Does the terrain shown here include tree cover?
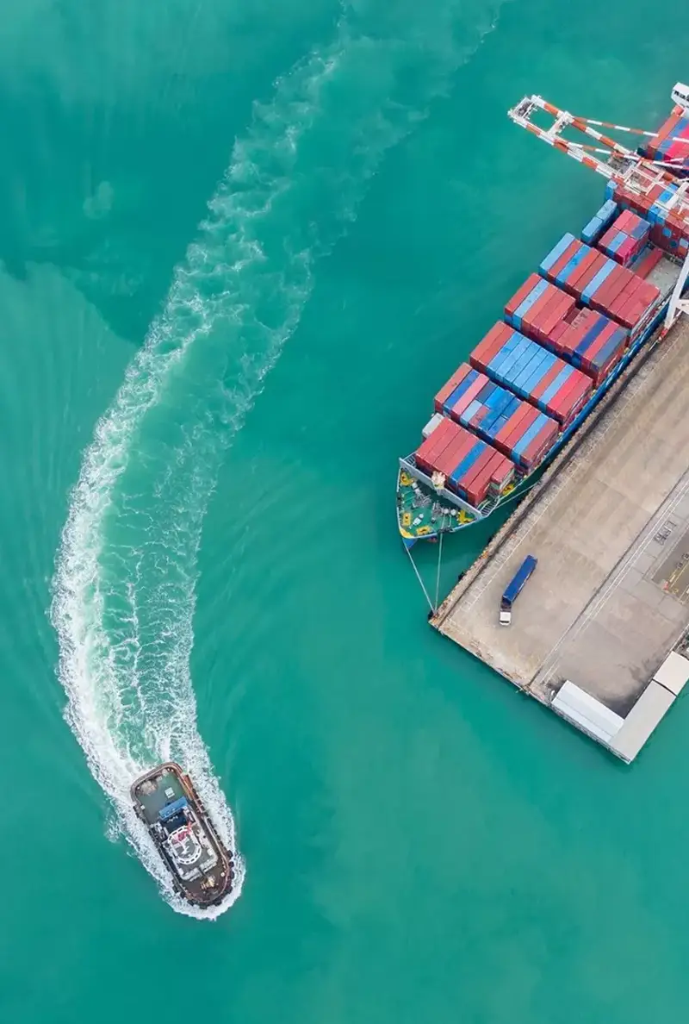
No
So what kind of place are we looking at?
port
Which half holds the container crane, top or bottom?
top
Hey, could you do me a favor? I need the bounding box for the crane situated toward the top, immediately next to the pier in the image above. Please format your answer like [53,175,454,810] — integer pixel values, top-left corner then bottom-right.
[508,87,689,344]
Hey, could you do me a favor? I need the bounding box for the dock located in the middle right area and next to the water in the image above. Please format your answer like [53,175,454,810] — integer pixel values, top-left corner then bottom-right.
[427,292,689,770]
